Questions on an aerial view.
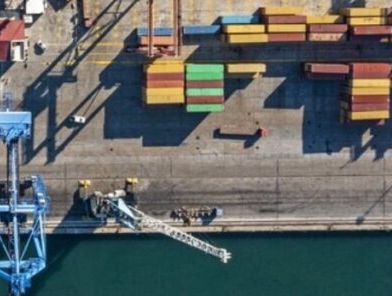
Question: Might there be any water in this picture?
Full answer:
Yes, water shows up in the scene.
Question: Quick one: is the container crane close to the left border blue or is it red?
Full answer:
In this view, the container crane close to the left border is blue.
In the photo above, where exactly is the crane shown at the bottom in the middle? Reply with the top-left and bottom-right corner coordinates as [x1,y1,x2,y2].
[81,179,229,263]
